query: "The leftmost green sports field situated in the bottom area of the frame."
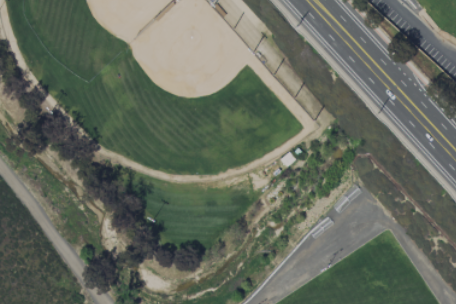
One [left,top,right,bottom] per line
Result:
[142,176,255,254]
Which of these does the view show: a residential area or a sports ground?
sports ground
